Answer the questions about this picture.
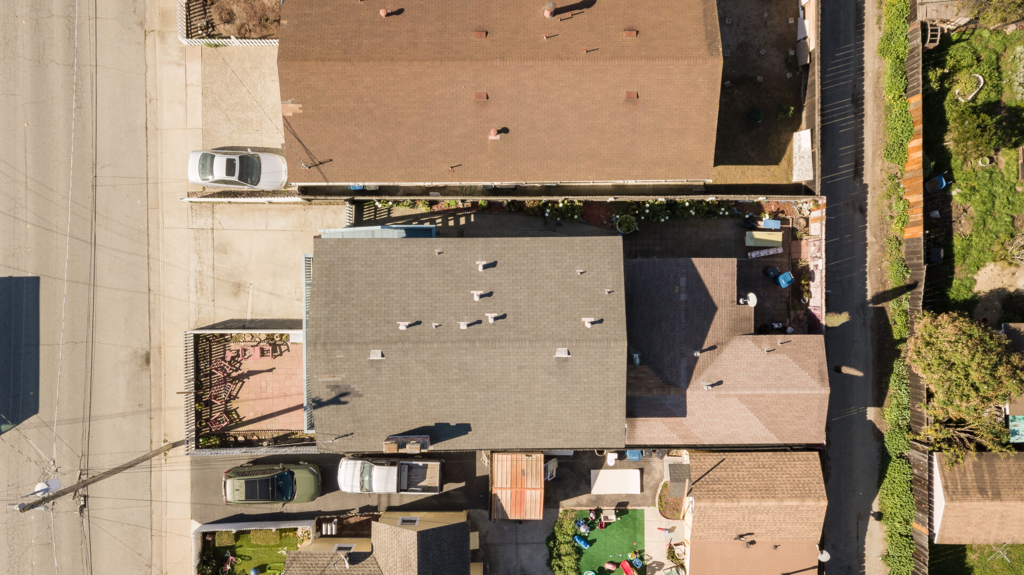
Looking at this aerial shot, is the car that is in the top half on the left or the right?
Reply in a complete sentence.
It is on the left.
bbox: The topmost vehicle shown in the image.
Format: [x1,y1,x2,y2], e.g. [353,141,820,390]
[186,146,287,192]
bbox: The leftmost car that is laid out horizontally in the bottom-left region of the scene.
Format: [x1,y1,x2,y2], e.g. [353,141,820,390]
[223,460,321,509]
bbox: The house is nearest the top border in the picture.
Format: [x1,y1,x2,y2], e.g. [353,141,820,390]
[276,0,722,187]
